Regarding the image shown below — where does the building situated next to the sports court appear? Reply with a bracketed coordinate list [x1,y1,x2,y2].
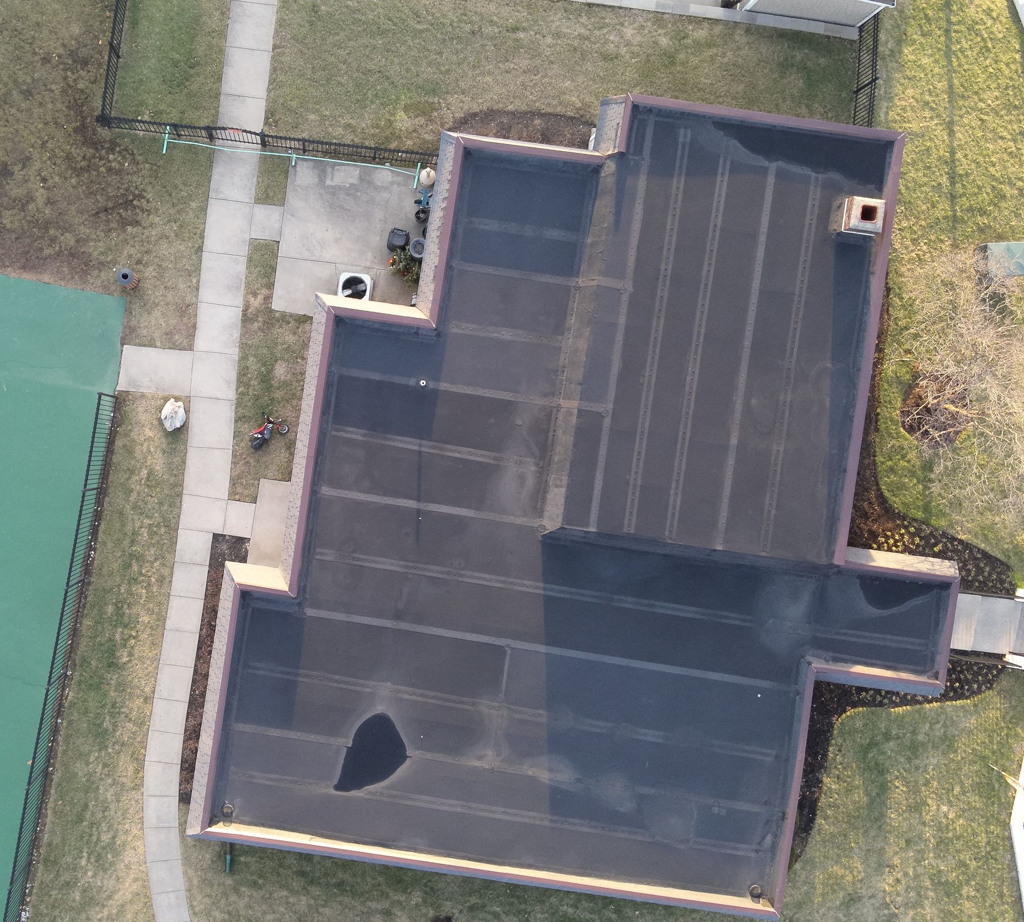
[186,92,961,921]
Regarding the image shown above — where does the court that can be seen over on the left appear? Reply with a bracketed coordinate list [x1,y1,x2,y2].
[0,274,126,922]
